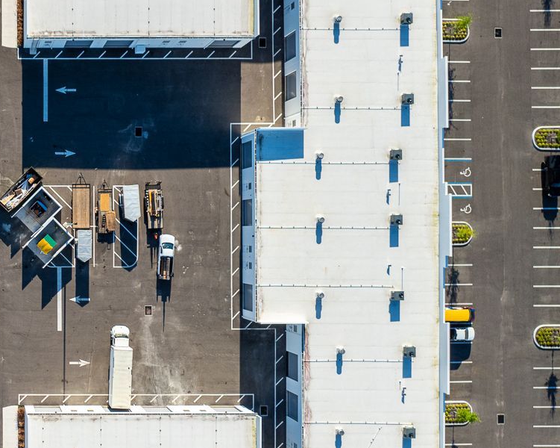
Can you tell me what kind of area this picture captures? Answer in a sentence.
The picture captures a parking lot.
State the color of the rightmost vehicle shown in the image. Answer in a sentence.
The color of the rightmost vehicle is black.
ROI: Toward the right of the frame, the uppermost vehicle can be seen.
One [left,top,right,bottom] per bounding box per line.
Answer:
[540,154,560,194]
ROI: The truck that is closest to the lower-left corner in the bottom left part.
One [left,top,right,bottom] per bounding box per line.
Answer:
[111,329,134,408]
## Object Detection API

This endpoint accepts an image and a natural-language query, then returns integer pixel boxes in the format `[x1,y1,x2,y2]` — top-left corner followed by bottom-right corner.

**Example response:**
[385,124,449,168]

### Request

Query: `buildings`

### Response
[239,0,451,448]
[22,402,258,448]
[22,0,258,51]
